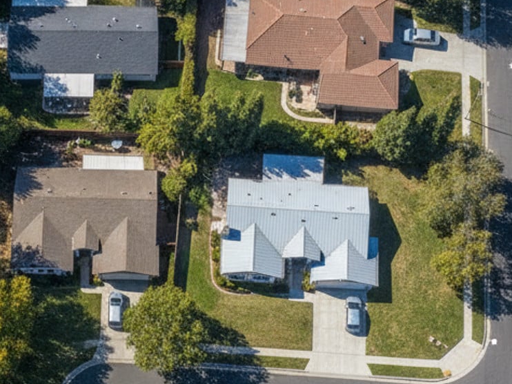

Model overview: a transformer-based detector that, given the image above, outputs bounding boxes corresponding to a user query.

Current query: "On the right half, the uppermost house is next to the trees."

[220,0,399,114]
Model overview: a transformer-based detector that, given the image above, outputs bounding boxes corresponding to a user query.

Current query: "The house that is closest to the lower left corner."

[11,154,158,280]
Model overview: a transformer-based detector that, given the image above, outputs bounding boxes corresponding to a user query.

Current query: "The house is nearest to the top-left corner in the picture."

[0,0,158,104]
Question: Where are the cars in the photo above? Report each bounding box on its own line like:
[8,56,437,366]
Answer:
[403,29,440,45]
[344,296,362,334]
[106,291,124,330]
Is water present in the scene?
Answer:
No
